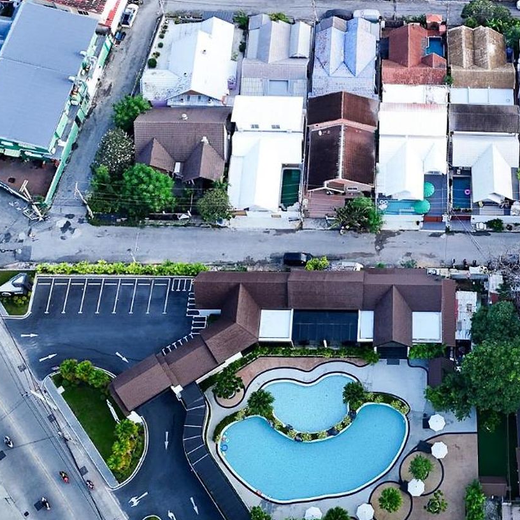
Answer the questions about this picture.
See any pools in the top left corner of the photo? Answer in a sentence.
No, no pool appears in the top left corner of the photo.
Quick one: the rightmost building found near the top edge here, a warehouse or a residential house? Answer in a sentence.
From above, the rightmost building found near the top edge can be identified as a residential house.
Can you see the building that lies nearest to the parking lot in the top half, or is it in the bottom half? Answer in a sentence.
Seen from above, the building that lies nearest to the parking lot lies in the bottom half of the view.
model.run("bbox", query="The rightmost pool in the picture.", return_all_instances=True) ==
[452,175,472,210]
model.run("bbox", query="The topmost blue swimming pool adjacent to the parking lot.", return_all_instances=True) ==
[259,373,360,434]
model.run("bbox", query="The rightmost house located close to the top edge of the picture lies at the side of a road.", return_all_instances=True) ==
[448,23,516,106]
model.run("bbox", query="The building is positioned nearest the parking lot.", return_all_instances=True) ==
[109,269,442,415]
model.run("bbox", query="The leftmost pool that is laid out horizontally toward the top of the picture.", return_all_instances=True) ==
[378,198,417,214]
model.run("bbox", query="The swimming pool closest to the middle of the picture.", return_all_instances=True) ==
[280,169,302,208]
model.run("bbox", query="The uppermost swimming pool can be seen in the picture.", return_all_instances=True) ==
[428,36,445,56]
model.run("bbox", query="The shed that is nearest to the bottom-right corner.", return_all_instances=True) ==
[481,477,507,496]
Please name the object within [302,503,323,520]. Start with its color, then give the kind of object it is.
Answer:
white umbrella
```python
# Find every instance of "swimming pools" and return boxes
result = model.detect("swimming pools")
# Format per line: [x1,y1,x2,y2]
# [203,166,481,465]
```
[452,175,472,210]
[218,402,409,503]
[378,198,417,214]
[259,373,360,434]
[428,36,445,56]
[280,169,302,208]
